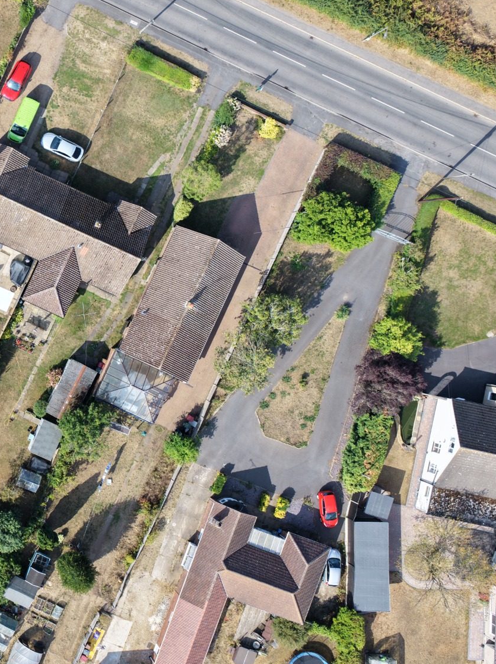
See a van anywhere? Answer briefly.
Yes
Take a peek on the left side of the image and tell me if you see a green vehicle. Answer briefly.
Yes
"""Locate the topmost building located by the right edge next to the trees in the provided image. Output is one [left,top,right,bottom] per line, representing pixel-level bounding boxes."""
[419,396,496,498]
